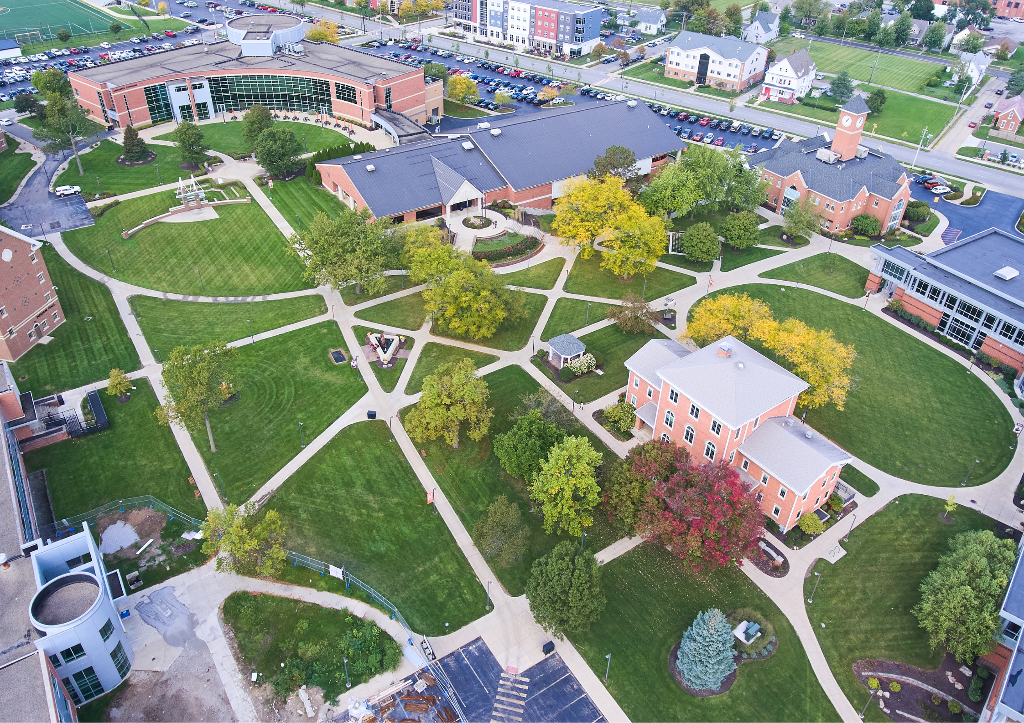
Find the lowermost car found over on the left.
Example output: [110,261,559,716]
[55,185,82,197]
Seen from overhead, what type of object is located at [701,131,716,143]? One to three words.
vehicle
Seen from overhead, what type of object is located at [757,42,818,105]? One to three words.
house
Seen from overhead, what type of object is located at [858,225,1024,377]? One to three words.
building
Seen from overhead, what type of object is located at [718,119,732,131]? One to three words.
vehicle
